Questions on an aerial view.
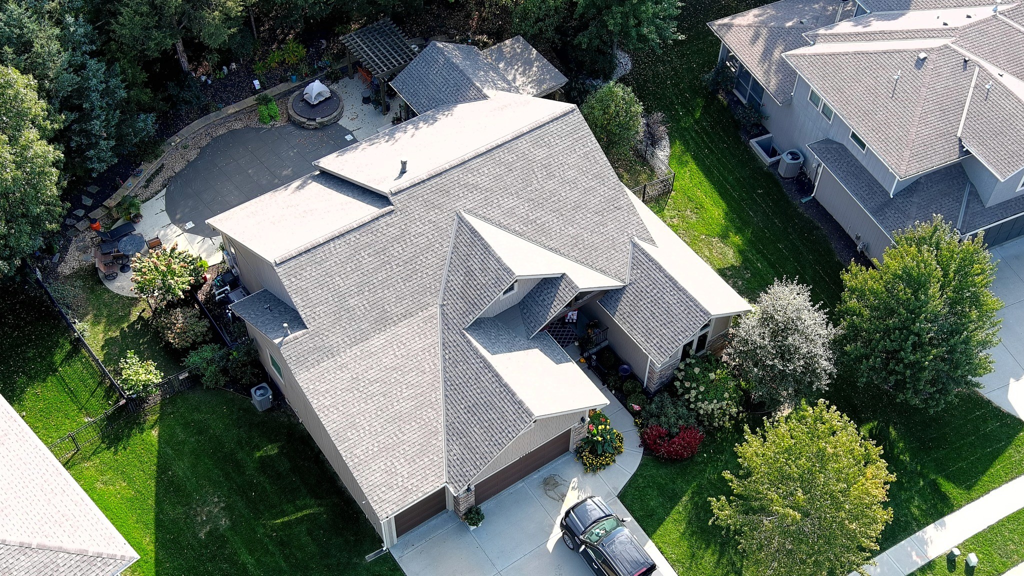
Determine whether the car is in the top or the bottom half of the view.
bottom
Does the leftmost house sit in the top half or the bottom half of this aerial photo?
bottom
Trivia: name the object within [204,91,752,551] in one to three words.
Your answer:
house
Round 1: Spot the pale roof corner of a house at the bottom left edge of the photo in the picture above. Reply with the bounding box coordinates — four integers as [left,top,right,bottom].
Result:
[0,390,143,576]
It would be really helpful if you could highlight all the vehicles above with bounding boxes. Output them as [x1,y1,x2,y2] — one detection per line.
[563,493,665,576]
